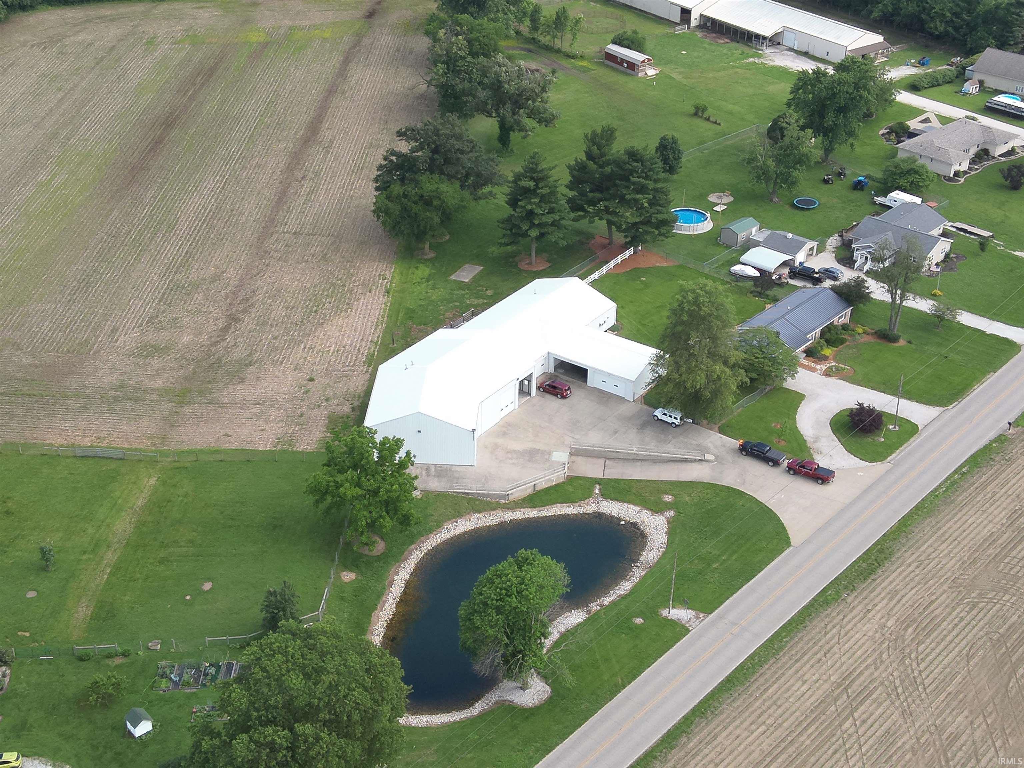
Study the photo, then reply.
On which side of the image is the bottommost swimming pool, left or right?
right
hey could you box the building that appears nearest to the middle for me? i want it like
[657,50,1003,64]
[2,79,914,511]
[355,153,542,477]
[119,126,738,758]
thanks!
[362,275,669,466]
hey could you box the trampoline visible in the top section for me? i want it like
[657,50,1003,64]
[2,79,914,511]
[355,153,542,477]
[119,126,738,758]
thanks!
[793,197,820,212]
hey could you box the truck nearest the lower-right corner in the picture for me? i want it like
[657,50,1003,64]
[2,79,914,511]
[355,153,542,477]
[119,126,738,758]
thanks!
[783,458,838,485]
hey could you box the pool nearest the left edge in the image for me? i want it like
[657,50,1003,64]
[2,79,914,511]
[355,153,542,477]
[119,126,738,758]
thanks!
[668,209,714,235]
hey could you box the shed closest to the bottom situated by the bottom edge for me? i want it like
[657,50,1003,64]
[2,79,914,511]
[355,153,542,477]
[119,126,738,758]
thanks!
[125,706,153,736]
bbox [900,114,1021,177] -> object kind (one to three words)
house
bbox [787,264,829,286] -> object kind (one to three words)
truck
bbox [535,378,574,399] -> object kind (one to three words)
car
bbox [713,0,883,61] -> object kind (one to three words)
barn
